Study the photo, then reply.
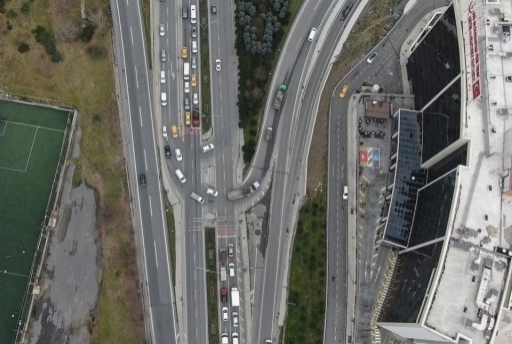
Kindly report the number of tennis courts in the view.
0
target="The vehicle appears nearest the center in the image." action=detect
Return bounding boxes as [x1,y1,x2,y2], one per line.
[229,182,261,199]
